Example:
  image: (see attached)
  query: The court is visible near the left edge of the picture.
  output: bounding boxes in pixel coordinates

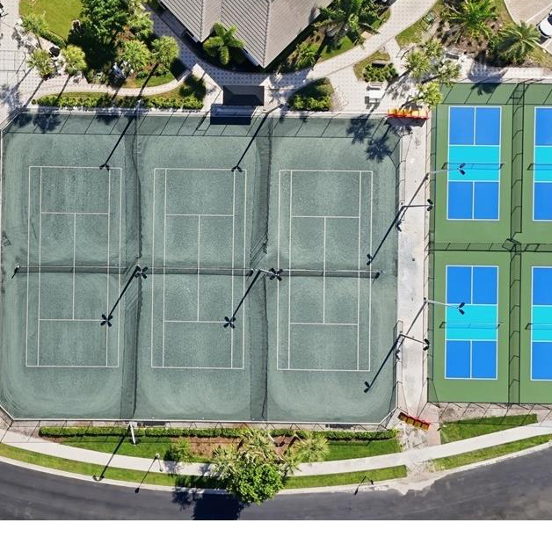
[0,115,136,421]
